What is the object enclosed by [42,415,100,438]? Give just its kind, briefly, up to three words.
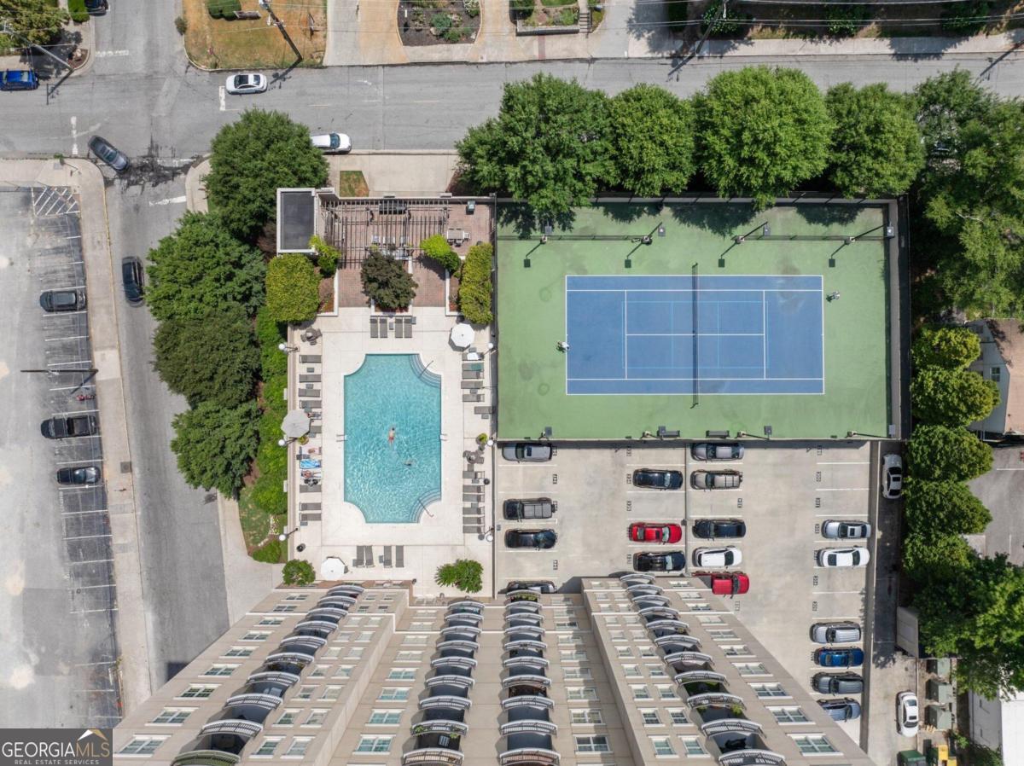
truck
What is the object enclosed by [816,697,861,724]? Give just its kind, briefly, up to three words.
car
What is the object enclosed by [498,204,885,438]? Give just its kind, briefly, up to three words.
tennis court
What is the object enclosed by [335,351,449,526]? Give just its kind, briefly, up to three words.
swimming pool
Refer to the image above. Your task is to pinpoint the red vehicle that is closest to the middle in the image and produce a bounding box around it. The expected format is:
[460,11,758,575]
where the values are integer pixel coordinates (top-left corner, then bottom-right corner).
[629,523,681,546]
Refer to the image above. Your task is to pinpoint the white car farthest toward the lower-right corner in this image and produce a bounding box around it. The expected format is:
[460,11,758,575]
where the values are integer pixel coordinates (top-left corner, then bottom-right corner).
[896,690,922,736]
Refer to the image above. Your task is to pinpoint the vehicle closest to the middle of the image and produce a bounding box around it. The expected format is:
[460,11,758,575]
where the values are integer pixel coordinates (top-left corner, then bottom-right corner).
[502,442,553,466]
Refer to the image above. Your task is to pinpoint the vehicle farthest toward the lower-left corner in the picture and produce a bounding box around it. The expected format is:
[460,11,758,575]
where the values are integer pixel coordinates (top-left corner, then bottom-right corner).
[57,466,103,486]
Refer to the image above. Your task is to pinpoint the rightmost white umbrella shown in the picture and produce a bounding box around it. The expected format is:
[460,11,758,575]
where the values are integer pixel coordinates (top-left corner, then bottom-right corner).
[452,324,474,347]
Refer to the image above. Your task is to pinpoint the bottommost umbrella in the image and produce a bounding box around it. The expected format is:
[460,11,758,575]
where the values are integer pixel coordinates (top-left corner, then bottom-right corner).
[323,555,346,578]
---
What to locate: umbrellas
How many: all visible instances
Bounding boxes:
[452,324,474,347]
[283,410,311,438]
[323,555,346,578]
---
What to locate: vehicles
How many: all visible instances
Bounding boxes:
[41,289,88,311]
[692,546,741,571]
[42,415,100,438]
[810,671,865,699]
[812,645,863,671]
[819,519,871,543]
[87,134,132,173]
[506,576,557,595]
[506,528,556,552]
[502,442,553,466]
[816,546,869,571]
[880,453,905,499]
[504,498,555,523]
[692,518,745,543]
[121,257,147,304]
[685,572,747,599]
[809,621,863,647]
[57,466,103,486]
[816,697,861,724]
[634,550,685,576]
[632,469,683,492]
[691,441,743,464]
[318,131,352,153]
[690,470,742,493]
[629,523,681,546]
[896,690,922,736]
[226,71,269,95]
